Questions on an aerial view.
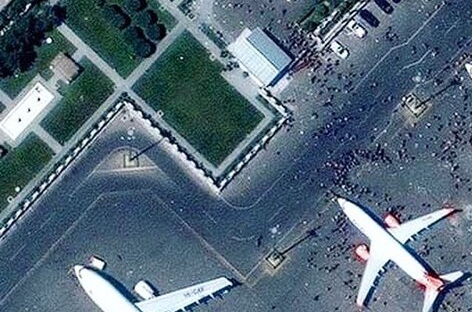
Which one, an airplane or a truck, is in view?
airplane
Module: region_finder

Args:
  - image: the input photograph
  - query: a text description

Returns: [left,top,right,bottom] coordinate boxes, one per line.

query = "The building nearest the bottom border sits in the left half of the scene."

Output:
[0,80,55,140]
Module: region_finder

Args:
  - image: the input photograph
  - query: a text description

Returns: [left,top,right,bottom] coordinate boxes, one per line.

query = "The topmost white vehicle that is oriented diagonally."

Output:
[348,19,366,36]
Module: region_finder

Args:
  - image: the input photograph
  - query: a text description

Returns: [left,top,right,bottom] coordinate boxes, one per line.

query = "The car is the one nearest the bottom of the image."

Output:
[330,39,350,58]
